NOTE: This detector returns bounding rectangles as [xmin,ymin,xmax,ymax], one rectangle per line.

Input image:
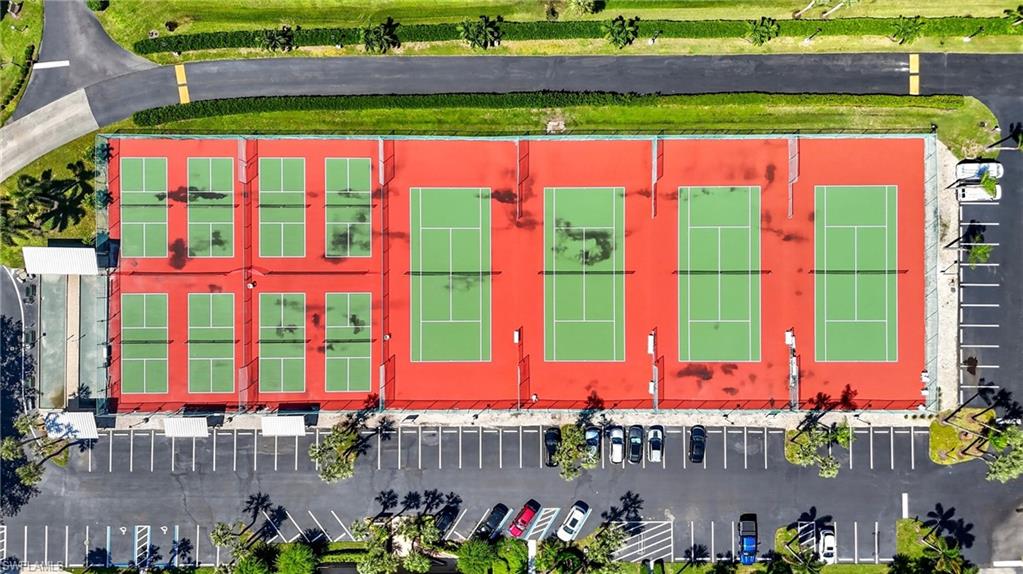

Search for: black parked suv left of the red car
[479,502,508,536]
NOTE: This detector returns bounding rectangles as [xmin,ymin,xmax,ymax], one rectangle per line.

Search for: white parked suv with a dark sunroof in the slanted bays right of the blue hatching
[556,504,585,538]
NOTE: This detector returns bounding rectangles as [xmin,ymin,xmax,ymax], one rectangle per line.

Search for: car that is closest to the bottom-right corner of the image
[818,528,837,563]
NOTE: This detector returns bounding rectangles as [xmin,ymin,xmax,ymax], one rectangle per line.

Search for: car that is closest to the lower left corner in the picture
[435,502,461,535]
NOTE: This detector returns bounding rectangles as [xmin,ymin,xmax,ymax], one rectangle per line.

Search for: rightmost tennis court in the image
[814,186,903,361]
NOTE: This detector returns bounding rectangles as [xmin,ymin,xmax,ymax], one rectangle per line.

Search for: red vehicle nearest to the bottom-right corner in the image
[509,501,537,536]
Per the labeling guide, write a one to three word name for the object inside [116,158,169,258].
sports court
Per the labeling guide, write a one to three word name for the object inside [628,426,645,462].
car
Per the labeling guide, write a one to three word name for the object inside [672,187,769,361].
tennis court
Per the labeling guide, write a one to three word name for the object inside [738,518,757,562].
vehicle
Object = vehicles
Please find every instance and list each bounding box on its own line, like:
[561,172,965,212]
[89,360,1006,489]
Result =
[690,426,708,463]
[818,528,837,563]
[435,502,461,535]
[648,428,665,462]
[957,163,1004,181]
[738,518,757,562]
[544,428,560,465]
[479,502,508,536]
[609,427,626,462]
[556,504,585,538]
[628,426,645,462]
[509,501,537,536]
[584,426,602,461]
[957,185,1002,203]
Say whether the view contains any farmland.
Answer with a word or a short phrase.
No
